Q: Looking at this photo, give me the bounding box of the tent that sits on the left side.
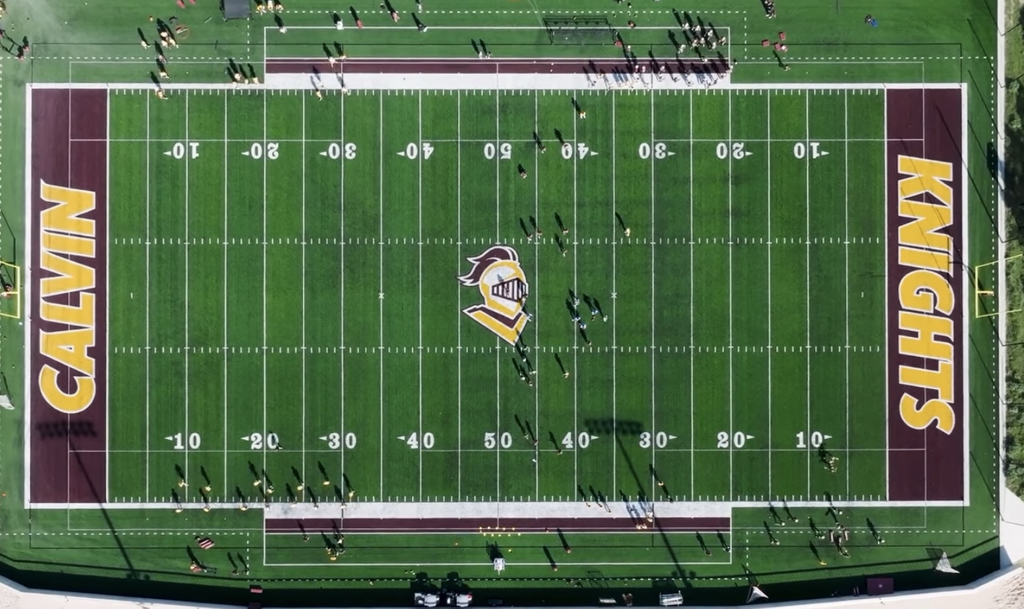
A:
[224,0,257,30]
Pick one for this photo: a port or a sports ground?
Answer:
sports ground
